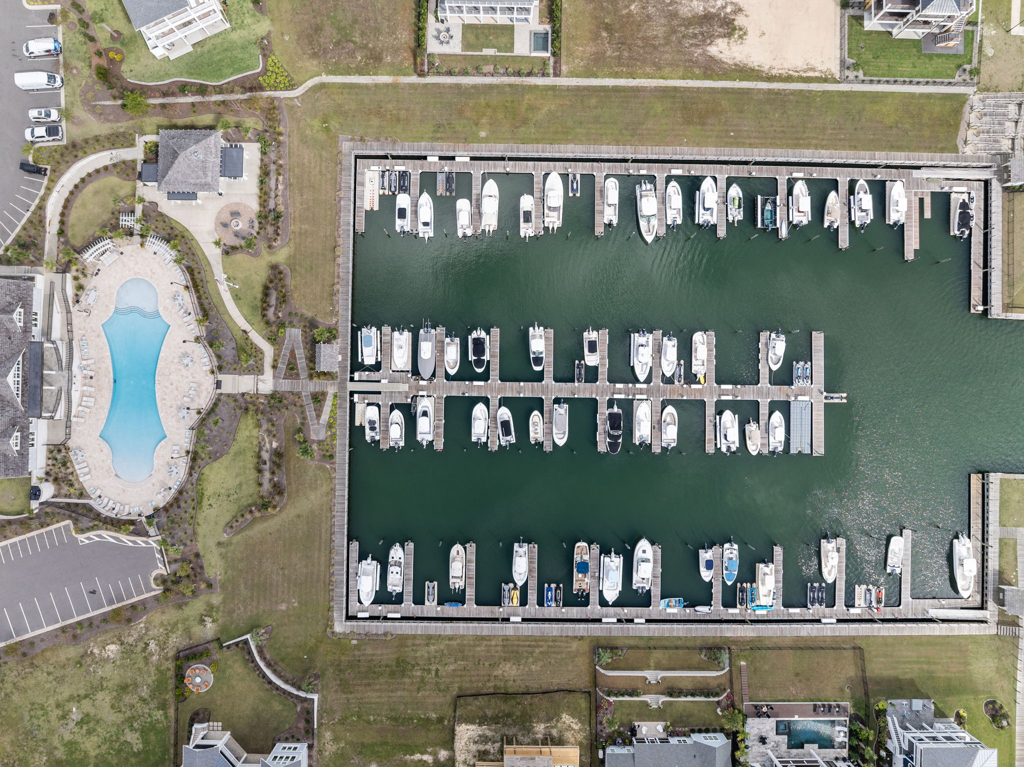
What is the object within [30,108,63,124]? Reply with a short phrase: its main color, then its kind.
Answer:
white car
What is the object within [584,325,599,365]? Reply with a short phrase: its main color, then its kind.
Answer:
white boat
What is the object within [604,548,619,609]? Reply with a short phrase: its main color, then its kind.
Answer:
white boat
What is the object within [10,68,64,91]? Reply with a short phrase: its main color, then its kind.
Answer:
white vehicle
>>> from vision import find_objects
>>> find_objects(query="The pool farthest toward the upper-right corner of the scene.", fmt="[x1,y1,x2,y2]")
[531,28,551,53]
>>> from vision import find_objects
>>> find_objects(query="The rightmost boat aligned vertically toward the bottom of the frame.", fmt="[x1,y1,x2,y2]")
[950,531,977,598]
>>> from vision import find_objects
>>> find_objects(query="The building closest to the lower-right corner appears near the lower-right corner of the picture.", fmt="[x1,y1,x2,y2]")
[884,718,998,767]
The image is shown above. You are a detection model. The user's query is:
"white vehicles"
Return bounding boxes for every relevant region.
[30,108,63,124]
[10,68,64,91]
[26,125,65,143]
[25,37,63,58]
